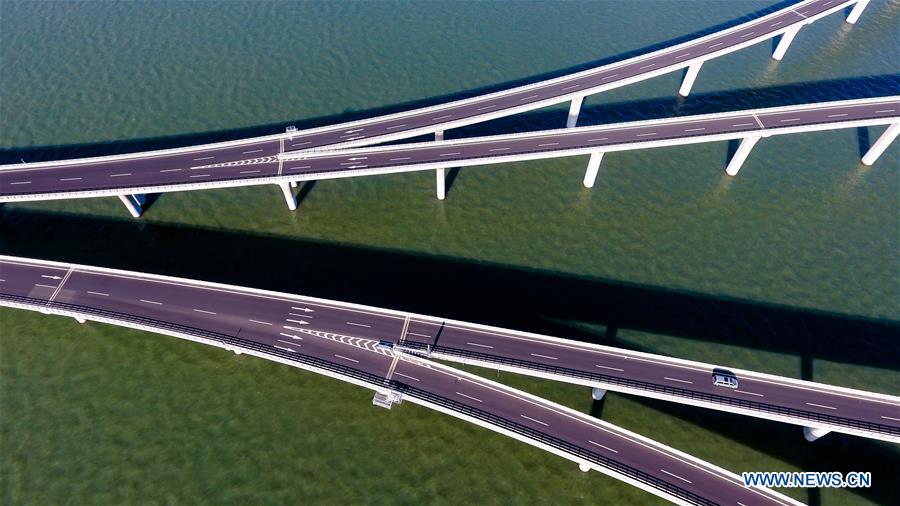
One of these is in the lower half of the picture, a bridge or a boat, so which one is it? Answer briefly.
bridge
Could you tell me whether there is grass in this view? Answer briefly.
No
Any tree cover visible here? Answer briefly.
No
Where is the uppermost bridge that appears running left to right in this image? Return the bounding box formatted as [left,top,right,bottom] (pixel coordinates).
[0,0,900,217]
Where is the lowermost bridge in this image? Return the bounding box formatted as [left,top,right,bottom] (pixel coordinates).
[0,256,900,506]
